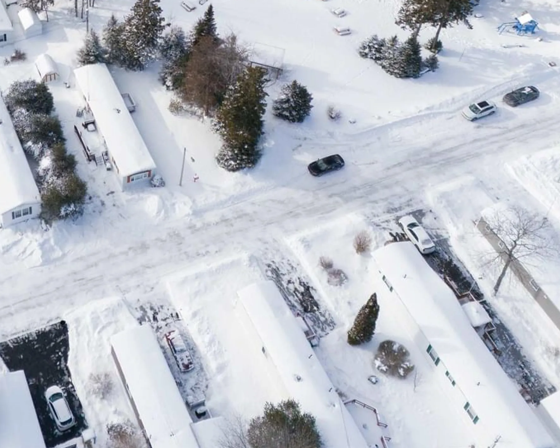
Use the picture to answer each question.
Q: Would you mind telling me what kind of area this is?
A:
residential area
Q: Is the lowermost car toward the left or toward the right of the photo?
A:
left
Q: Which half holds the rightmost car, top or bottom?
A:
top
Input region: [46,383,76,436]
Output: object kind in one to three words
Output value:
car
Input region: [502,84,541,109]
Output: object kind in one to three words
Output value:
car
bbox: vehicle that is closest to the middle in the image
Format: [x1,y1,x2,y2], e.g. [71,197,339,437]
[306,150,346,179]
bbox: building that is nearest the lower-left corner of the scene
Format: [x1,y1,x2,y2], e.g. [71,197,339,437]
[0,372,49,448]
